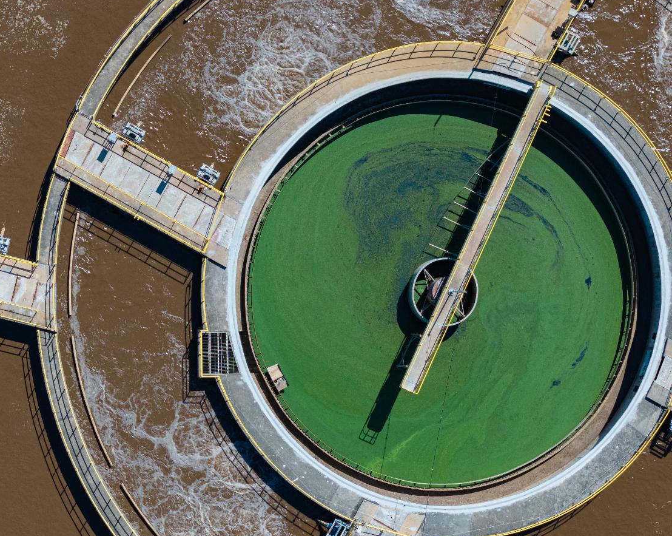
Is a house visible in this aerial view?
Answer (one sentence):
No, I can see no house in this picture.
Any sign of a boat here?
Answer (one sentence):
No, no boat is visible in the scene.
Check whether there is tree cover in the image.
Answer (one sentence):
No, no tree cover is visible.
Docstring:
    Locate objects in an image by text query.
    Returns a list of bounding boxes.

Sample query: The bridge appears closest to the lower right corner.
[645,340,672,413]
